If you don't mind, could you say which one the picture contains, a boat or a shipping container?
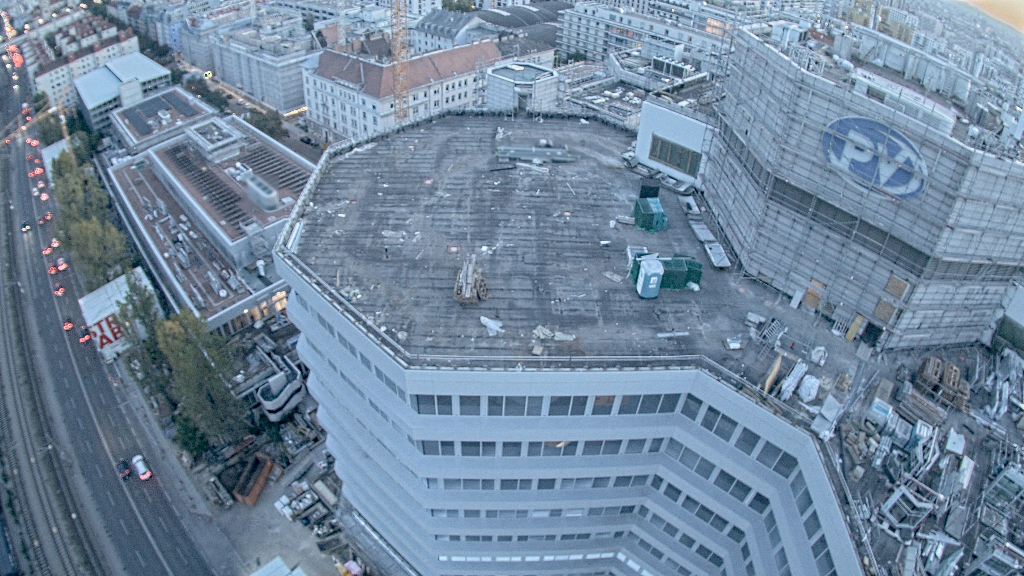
shipping container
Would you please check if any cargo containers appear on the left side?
Yes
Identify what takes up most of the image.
buildings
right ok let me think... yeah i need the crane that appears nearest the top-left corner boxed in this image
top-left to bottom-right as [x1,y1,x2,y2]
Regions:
[0,85,78,147]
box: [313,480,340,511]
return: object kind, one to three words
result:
shipping container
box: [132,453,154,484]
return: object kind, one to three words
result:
car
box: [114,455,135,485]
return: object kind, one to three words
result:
car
